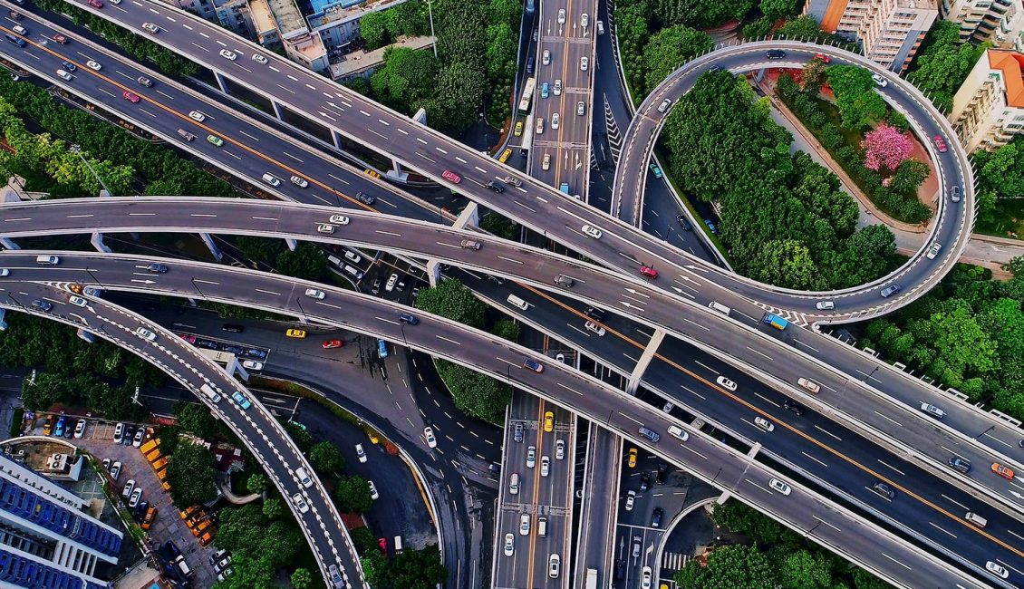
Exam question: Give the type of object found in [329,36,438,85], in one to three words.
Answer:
building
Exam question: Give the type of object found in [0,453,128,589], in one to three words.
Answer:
building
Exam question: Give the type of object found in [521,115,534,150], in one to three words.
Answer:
vehicle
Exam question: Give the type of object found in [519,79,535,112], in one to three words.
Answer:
vehicle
